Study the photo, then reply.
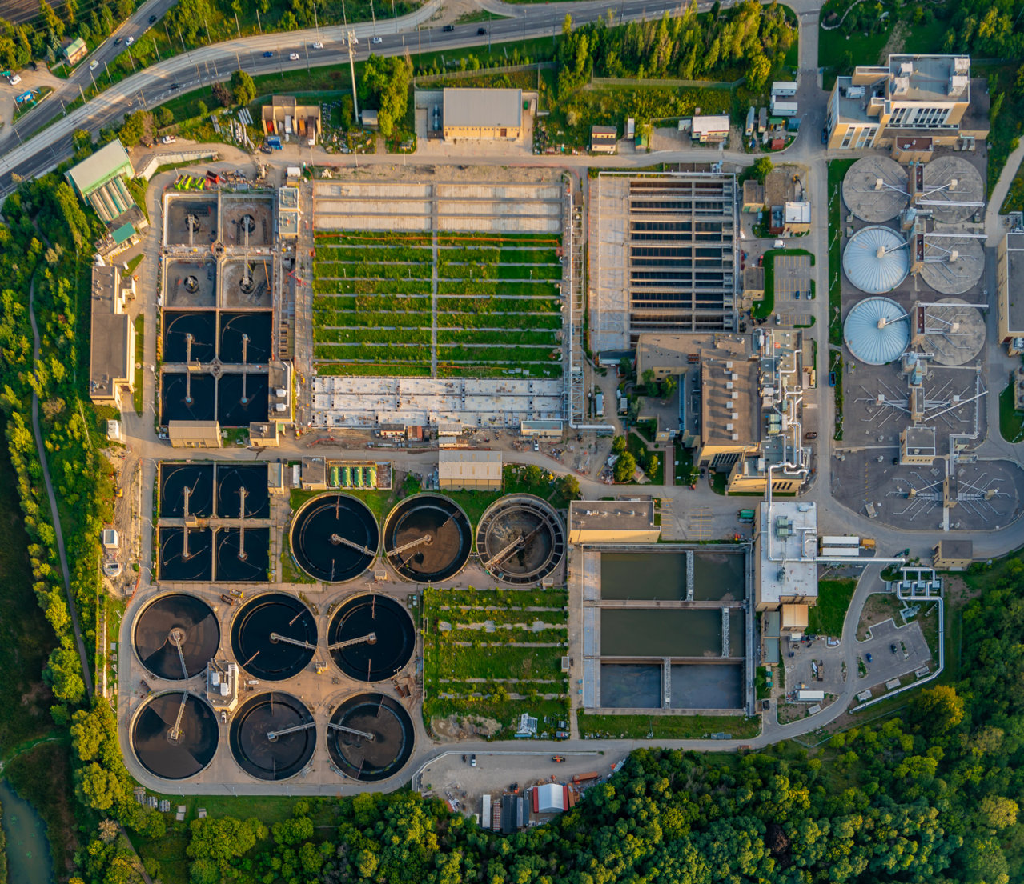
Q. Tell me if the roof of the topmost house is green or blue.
green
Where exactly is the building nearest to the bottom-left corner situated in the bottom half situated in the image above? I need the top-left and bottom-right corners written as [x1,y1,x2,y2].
[208,657,240,711]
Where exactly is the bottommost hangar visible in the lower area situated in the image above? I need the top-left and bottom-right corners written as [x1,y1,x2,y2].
[538,783,563,813]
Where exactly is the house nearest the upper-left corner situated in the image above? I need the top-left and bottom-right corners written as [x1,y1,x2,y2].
[64,33,90,67]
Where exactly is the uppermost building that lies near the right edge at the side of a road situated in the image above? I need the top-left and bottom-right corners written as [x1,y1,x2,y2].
[828,55,989,162]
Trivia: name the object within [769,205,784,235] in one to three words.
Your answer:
house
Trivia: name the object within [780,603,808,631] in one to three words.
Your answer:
shed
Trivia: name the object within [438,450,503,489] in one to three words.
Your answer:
building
